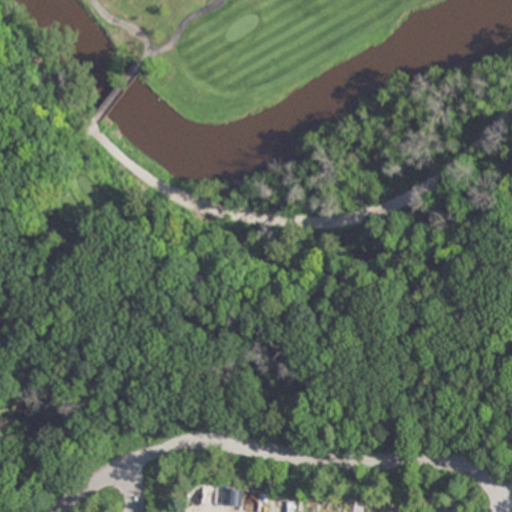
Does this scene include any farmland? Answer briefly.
No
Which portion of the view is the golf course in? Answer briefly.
top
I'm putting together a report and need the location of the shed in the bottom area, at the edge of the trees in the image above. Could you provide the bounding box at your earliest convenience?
[216,486,242,508]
